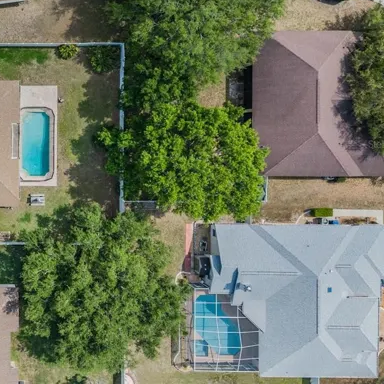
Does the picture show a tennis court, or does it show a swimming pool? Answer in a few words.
swimming pool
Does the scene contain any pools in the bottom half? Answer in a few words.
Yes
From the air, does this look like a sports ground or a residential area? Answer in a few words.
residential area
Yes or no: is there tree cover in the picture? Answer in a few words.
Yes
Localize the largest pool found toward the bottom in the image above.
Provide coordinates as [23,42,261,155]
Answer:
[195,293,242,357]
